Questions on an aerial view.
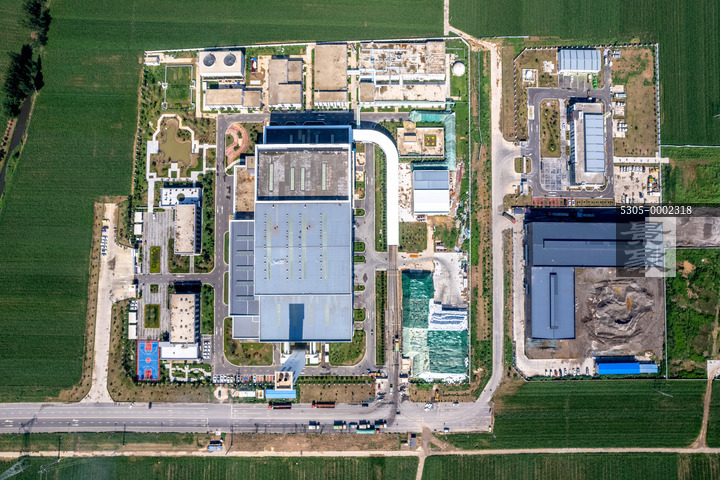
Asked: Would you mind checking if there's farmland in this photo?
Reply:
Yes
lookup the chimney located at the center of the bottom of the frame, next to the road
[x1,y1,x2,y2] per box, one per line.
[279,349,305,390]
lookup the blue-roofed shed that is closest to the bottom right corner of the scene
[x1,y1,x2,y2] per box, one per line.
[592,361,657,375]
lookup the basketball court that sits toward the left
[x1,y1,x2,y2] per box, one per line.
[137,340,159,381]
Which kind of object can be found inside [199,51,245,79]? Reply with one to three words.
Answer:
cooling tower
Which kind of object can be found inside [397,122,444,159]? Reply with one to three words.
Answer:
building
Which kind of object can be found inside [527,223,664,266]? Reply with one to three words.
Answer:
shed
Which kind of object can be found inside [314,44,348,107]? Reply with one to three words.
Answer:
building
